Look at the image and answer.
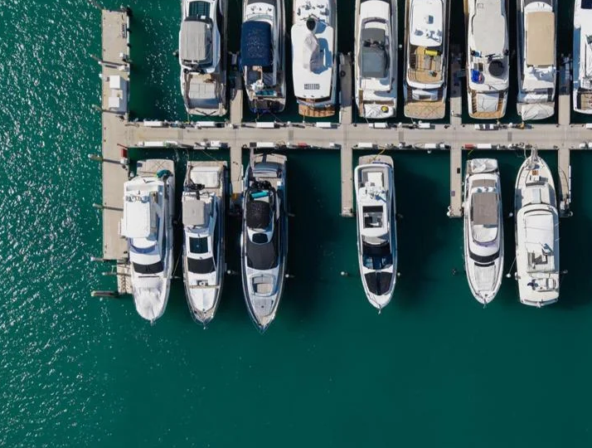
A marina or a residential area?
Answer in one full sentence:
This looks like a marina.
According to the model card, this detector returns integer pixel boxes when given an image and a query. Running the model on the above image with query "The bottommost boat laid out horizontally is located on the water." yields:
[530,277,559,290]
